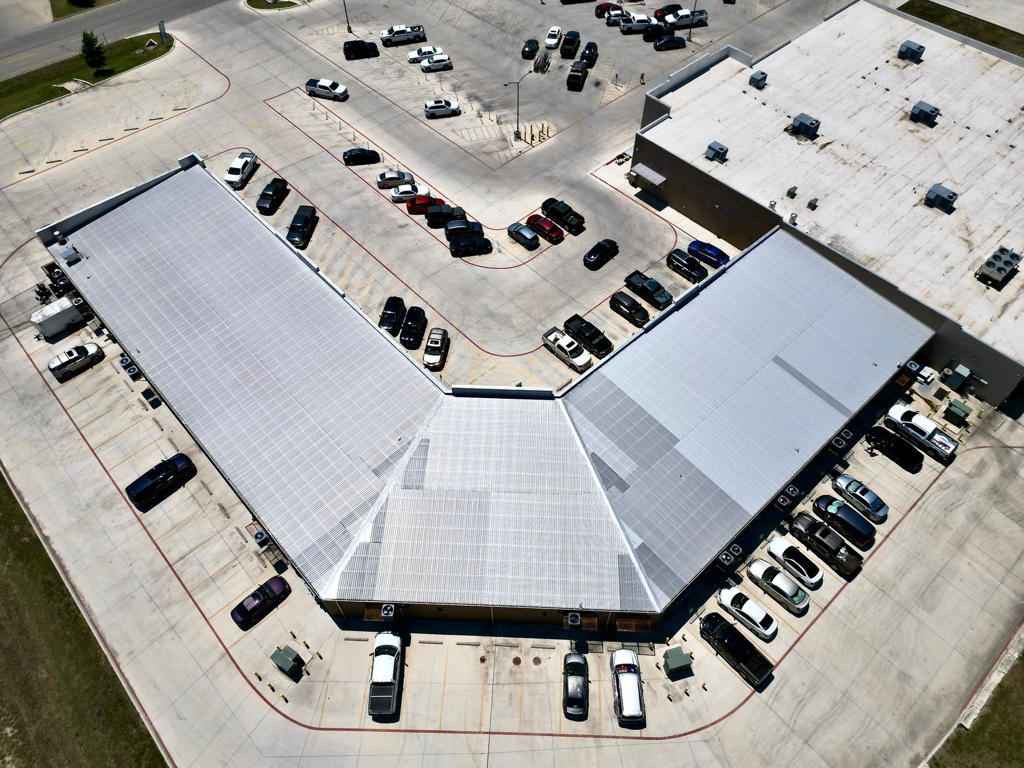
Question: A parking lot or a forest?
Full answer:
This looks like a parking lot.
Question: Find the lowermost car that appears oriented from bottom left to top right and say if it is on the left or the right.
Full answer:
The lowermost car that appears oriented from bottom left to top right is on the left side of the image.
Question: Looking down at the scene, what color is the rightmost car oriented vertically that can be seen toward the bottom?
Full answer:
The color of the rightmost car oriented vertically that can be seen toward the bottom is white.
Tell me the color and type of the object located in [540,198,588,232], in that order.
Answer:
black truck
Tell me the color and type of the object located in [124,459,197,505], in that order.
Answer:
black car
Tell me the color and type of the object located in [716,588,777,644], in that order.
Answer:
white car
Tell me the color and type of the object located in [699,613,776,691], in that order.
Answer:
black truck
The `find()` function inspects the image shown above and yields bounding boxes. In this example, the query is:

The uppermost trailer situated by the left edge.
[31,293,85,329]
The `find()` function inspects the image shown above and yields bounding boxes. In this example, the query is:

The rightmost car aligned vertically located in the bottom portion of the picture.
[611,649,645,722]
